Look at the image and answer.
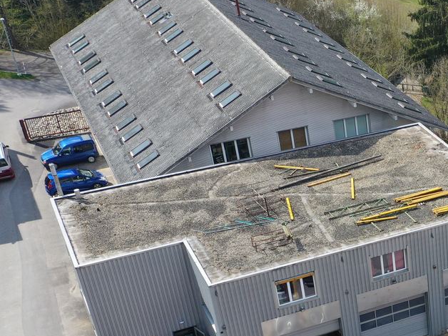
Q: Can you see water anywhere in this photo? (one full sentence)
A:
No, the scene doesn't show any water.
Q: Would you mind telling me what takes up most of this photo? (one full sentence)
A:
What you mostly see from above here is buildings.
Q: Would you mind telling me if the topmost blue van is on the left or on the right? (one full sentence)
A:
The topmost blue van sits on the left side.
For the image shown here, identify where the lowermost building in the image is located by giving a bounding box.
[41,123,448,336]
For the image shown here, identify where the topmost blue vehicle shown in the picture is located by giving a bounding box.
[40,134,100,167]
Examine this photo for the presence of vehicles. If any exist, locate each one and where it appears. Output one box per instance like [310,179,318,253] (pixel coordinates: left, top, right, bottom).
[39,163,103,194]
[0,140,23,177]
[40,134,100,167]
